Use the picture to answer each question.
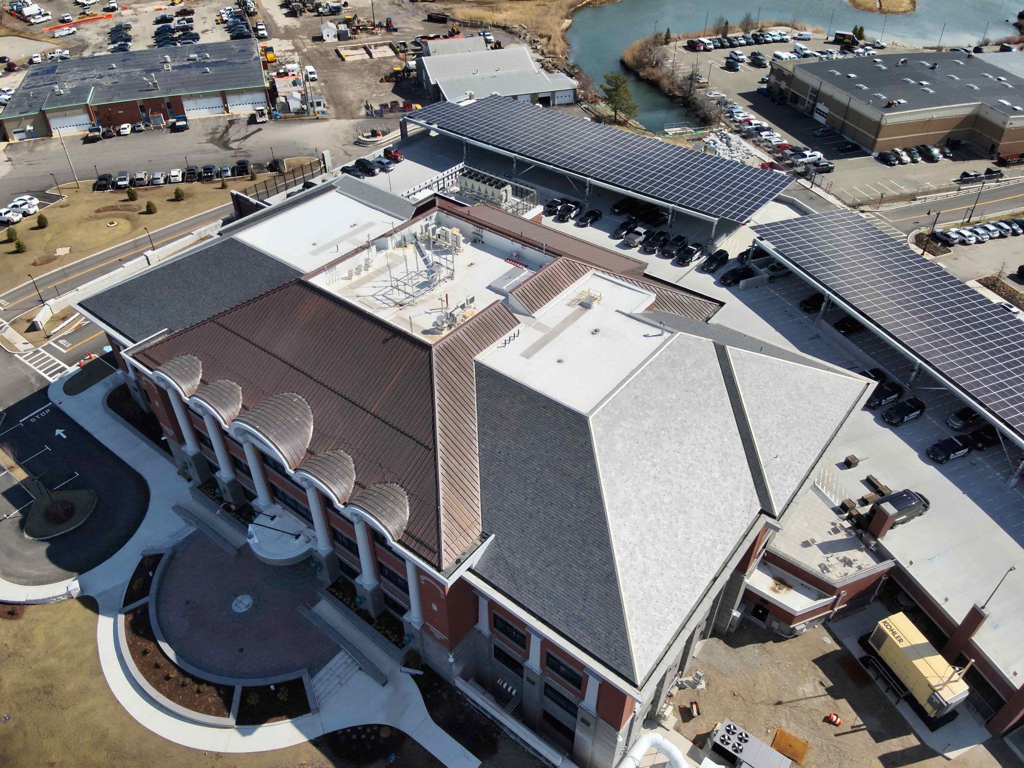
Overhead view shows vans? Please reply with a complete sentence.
Yes, the photo shows a van.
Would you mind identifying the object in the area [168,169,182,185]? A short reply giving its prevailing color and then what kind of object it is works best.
white car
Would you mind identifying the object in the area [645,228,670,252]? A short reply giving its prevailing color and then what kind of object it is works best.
black car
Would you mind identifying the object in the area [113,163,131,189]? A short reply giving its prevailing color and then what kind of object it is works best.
gray vehicle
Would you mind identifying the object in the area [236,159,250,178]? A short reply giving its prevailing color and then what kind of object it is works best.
black vehicle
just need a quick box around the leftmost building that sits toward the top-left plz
[0,39,269,144]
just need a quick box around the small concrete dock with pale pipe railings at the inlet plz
[664,119,697,138]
